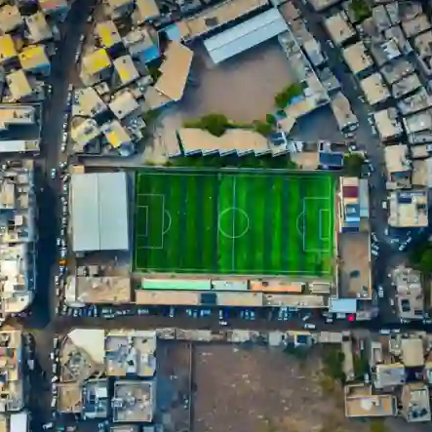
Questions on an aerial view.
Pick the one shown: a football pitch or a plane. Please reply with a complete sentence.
It is a football pitch that can be seen here.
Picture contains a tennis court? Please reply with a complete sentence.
No, there is no tennis court in the image.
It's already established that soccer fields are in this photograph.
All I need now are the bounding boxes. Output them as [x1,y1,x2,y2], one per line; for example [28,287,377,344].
[132,168,334,278]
